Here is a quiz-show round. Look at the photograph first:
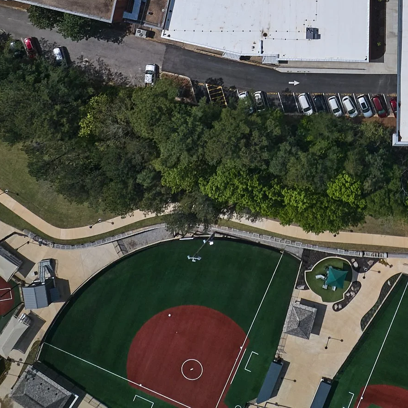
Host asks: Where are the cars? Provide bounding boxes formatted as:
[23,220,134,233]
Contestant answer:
[10,39,28,60]
[251,91,264,107]
[342,94,359,118]
[387,97,398,119]
[54,45,69,66]
[297,91,312,112]
[24,36,40,60]
[372,94,388,118]
[236,89,253,107]
[356,94,373,118]
[328,94,344,116]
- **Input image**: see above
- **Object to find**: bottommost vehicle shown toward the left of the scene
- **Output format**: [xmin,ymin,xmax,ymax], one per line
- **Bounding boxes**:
[144,62,156,85]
